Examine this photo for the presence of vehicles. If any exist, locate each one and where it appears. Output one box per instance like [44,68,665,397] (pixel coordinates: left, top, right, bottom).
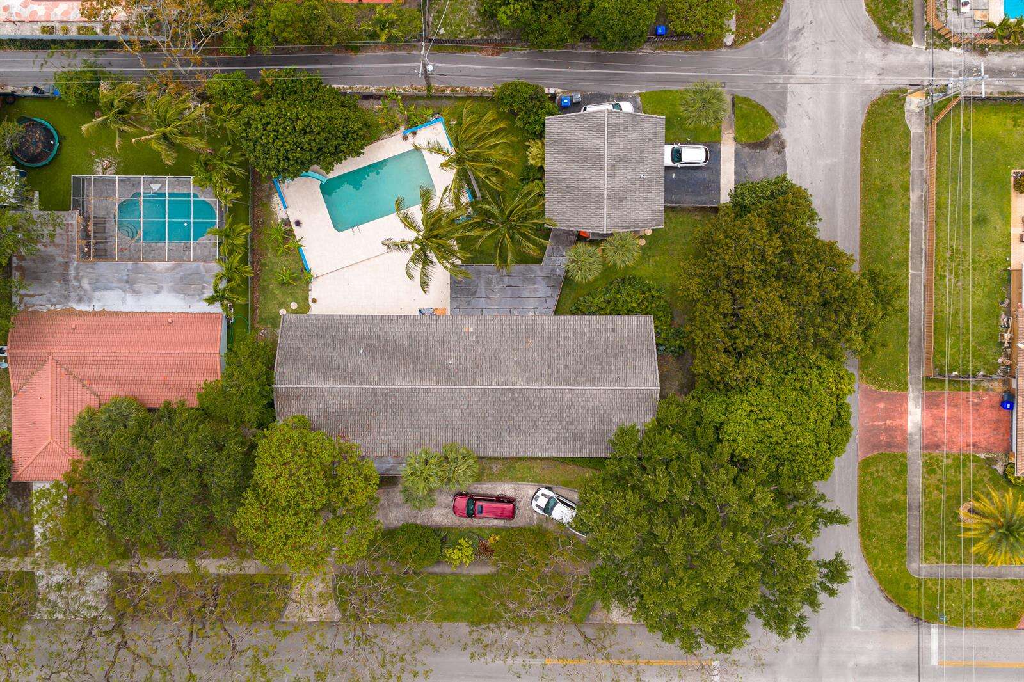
[665,138,710,168]
[579,93,636,109]
[530,491,589,536]
[453,491,516,522]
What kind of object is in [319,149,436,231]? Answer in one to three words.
swimming pool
